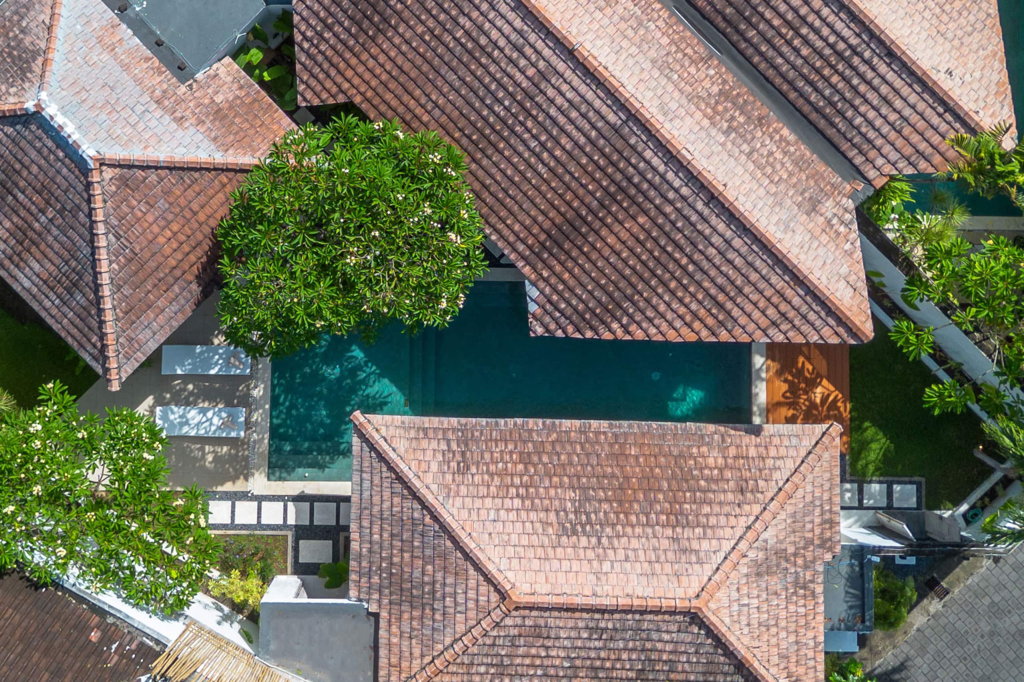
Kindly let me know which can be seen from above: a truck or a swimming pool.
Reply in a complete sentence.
Looking from above, you can make out a swimming pool.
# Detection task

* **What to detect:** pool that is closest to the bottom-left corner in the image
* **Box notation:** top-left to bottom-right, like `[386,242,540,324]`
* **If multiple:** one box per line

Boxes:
[271,281,752,481]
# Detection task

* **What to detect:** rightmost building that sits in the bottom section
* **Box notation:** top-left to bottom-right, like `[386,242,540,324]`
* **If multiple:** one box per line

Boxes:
[344,405,849,682]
